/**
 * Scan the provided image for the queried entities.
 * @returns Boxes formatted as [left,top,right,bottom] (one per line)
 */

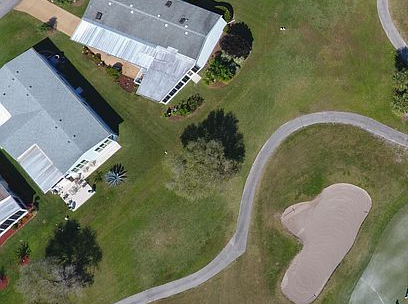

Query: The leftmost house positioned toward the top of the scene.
[0,47,123,193]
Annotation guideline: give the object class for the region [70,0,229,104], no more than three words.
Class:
house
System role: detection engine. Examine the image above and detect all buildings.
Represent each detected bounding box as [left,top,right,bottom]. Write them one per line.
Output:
[70,0,229,104]
[0,47,123,193]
